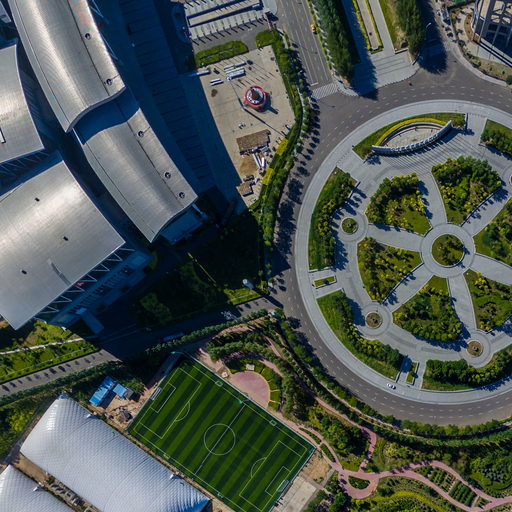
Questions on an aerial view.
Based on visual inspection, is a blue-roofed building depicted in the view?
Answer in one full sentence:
Yes, a blue-roofed building is visible in the scene.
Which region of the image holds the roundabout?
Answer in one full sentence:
The roundabout is located in the right region of the scene.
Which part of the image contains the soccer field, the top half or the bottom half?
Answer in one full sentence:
It is in the bottom half that the soccer field appears.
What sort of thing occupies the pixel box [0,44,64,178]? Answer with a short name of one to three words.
building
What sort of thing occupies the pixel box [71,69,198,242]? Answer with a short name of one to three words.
building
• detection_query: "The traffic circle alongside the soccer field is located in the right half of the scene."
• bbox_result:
[272,76,512,425]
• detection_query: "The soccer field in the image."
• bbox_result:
[124,352,315,512]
